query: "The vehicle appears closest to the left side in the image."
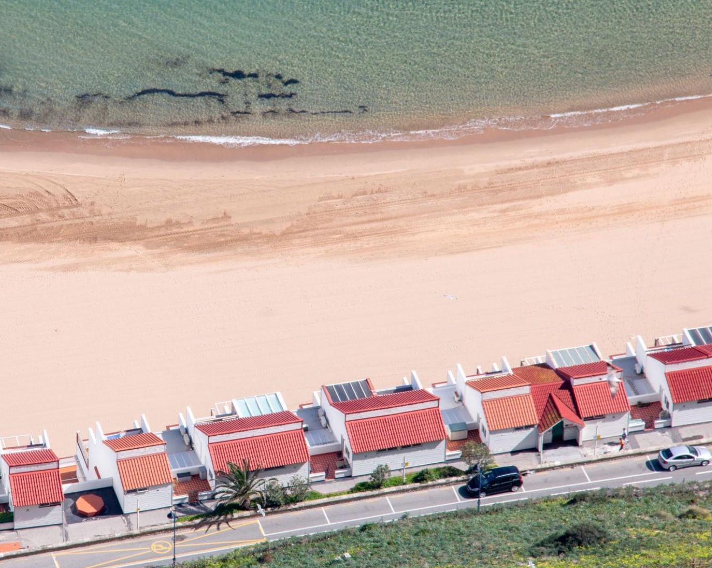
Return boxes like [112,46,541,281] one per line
[471,464,523,497]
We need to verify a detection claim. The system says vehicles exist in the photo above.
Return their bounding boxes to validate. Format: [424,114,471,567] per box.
[471,464,523,497]
[659,445,712,471]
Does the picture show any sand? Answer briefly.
Yes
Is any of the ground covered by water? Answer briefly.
Yes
